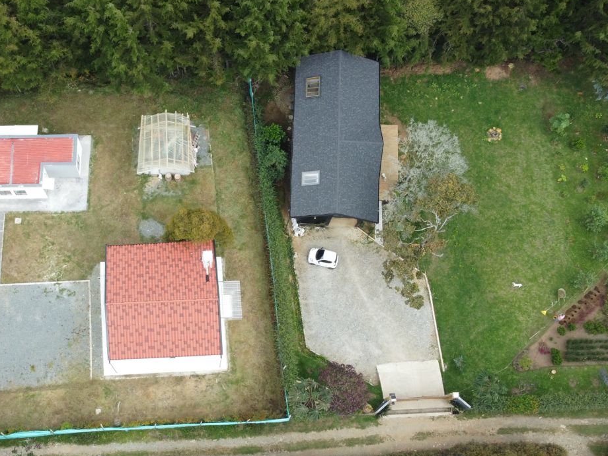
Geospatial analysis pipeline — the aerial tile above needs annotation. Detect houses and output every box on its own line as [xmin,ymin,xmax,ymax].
[103,239,224,364]
[0,125,82,198]
[290,50,384,232]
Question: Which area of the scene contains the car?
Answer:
center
